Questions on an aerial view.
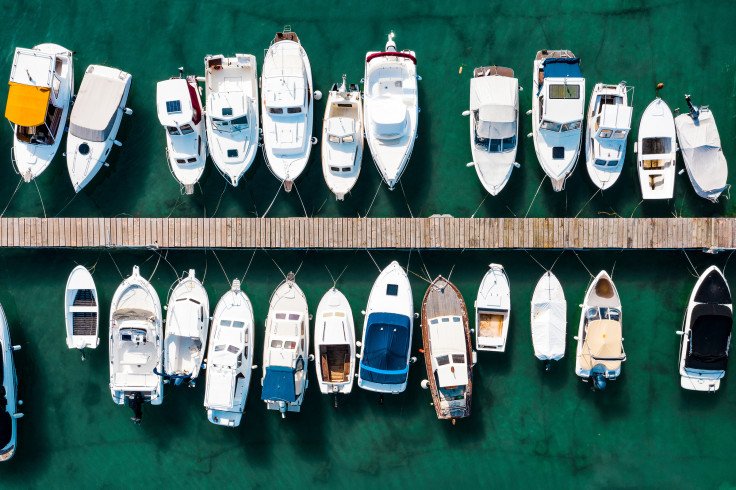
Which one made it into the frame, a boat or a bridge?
boat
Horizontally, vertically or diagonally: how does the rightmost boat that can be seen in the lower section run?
vertically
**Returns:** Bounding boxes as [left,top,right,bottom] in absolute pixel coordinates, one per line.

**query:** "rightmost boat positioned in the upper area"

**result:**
[673,91,729,203]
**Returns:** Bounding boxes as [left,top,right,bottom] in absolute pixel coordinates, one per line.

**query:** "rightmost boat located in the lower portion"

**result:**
[678,266,734,393]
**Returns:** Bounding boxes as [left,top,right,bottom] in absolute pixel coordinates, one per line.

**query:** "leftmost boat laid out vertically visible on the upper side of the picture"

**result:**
[6,41,76,185]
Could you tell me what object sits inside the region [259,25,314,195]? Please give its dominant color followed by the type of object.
white boat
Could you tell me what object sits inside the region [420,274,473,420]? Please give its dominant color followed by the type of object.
white boat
